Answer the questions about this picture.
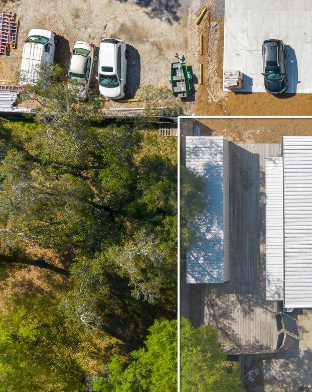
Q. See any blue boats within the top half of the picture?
No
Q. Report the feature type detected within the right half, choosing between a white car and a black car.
black car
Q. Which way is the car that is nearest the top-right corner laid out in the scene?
up and down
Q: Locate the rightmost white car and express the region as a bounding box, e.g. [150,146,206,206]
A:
[95,40,128,101]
